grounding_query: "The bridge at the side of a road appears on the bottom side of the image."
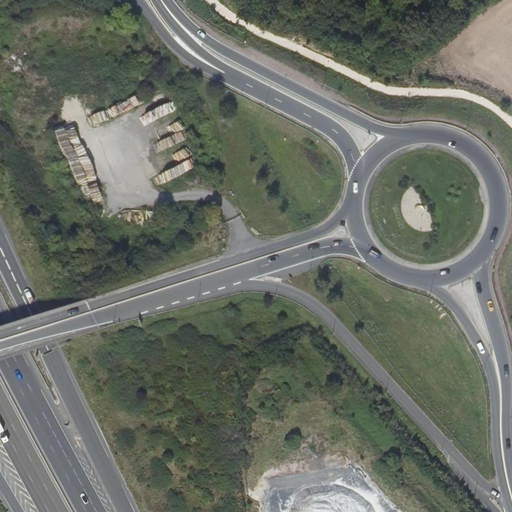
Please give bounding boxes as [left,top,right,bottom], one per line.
[0,292,116,359]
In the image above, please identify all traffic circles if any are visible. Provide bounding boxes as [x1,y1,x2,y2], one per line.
[344,124,508,288]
